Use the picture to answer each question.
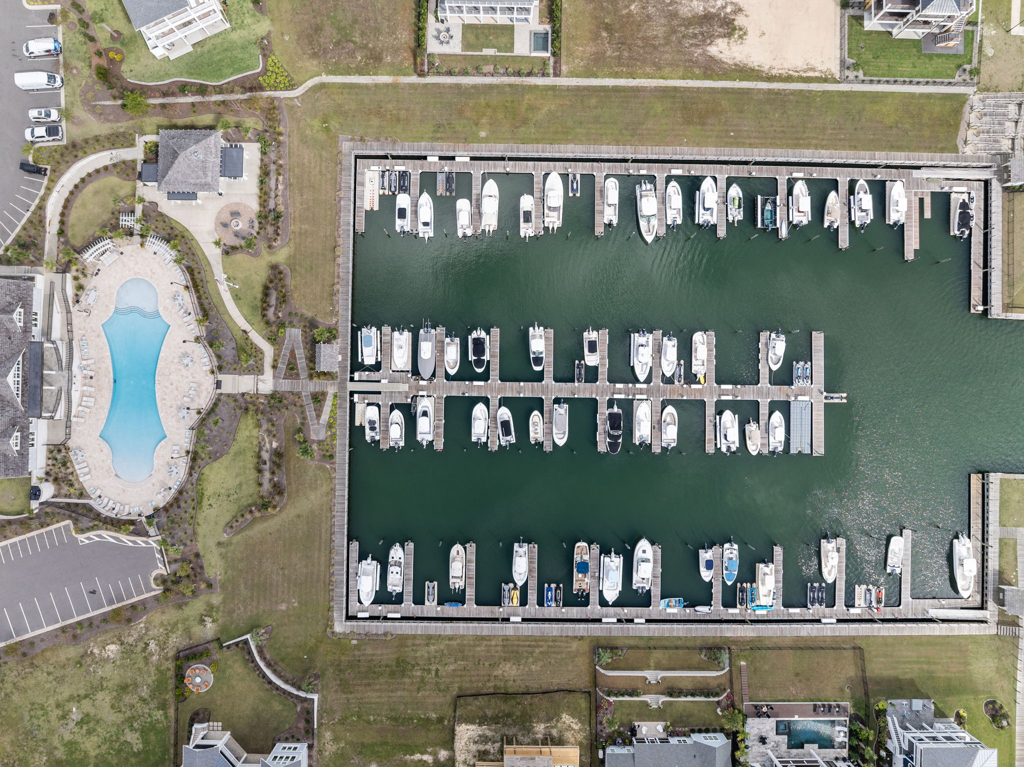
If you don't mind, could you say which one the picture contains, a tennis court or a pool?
pool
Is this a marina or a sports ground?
marina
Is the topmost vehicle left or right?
left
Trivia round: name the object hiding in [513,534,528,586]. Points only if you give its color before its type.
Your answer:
white boat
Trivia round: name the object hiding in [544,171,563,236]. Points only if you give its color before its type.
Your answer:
white boat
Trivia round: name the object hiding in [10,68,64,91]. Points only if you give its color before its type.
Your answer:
white vehicle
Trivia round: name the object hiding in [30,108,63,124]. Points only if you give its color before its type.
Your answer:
white car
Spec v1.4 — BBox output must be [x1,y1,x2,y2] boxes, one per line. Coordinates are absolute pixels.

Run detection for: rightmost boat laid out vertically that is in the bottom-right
[950,531,977,598]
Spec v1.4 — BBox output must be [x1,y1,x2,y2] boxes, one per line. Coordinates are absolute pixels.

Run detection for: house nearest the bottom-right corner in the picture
[884,718,998,767]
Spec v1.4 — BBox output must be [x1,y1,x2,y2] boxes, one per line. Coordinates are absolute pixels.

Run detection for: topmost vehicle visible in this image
[25,37,63,58]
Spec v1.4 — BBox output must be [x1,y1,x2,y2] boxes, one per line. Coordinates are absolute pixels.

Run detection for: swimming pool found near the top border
[531,28,551,53]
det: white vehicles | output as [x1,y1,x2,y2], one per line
[30,108,63,124]
[26,125,65,143]
[25,37,63,58]
[10,68,64,91]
